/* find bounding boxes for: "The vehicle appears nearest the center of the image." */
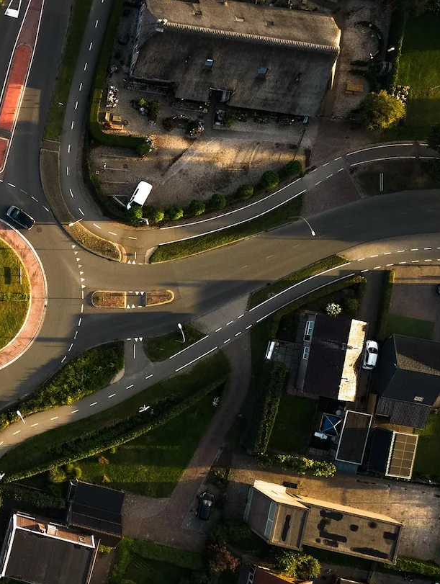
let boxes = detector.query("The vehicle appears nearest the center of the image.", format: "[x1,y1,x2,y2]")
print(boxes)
[128,177,154,209]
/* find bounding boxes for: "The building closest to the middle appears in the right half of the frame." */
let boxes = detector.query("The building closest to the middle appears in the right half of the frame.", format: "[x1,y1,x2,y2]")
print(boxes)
[293,314,367,401]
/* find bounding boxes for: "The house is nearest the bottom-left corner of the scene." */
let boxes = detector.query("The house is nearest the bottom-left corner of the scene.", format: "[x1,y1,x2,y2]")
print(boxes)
[1,506,101,584]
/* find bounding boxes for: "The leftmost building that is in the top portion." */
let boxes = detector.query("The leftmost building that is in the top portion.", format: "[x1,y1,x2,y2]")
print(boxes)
[127,0,341,120]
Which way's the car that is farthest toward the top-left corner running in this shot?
on a diagonal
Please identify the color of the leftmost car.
black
